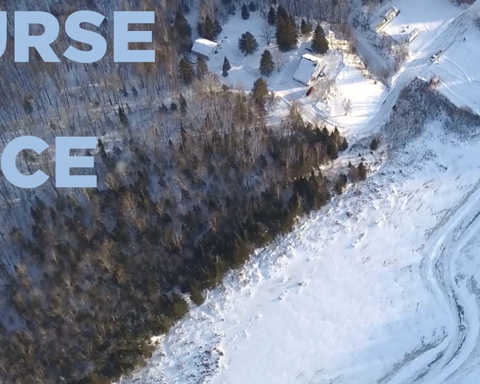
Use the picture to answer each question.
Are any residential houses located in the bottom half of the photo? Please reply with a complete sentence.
No, no residential house appears in the bottom half of the photo.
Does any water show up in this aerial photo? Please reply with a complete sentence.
Yes, water shows up in the scene.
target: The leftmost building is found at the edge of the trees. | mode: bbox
[194,39,219,60]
